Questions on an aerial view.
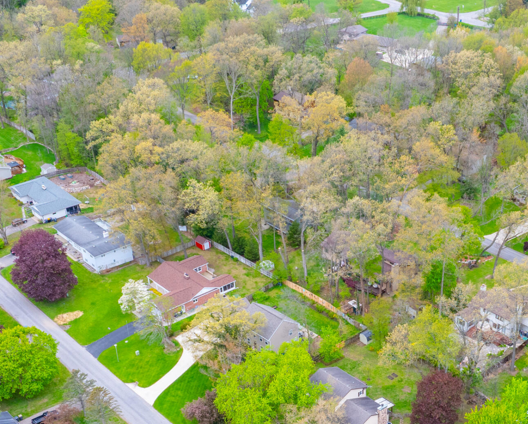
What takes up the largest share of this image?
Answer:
trees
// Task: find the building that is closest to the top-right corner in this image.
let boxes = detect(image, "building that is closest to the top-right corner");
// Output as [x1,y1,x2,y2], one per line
[339,26,400,49]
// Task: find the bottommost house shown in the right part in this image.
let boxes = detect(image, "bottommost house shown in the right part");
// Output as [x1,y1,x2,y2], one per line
[306,364,398,424]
